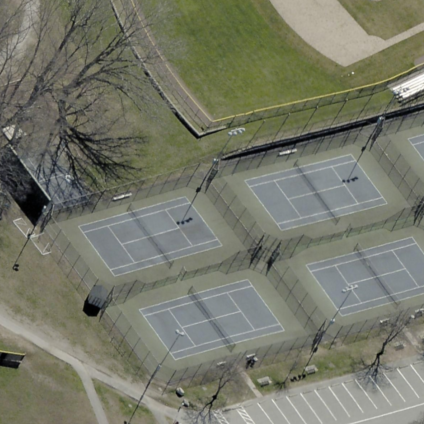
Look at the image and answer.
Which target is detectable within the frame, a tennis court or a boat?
tennis court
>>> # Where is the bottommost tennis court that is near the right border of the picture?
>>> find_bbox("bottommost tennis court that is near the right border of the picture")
[265,212,424,337]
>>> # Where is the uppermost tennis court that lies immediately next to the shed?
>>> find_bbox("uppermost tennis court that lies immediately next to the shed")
[40,174,264,296]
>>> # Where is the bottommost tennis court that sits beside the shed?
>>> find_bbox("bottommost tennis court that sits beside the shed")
[107,255,323,384]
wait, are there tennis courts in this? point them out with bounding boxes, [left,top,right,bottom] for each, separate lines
[40,174,264,296]
[206,131,424,254]
[265,212,424,337]
[370,117,424,205]
[107,255,323,384]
